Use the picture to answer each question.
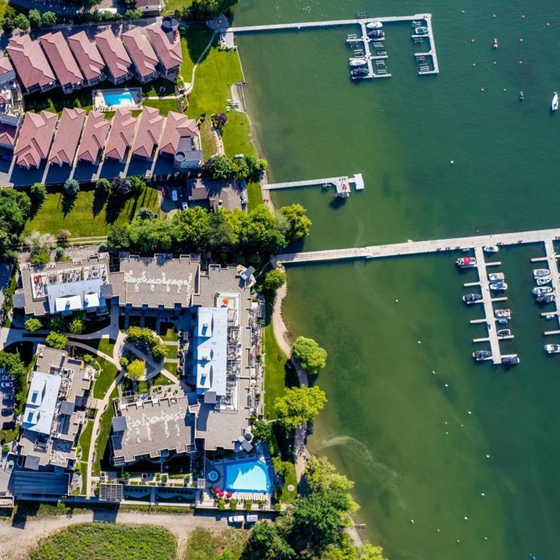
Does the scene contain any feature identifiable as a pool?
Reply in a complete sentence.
Yes, the image includes a pool.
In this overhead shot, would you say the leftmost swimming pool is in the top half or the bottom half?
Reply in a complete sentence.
The top half of the photo is where the leftmost swimming pool is.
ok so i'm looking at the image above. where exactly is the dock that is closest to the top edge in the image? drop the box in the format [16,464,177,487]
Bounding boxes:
[228,12,439,79]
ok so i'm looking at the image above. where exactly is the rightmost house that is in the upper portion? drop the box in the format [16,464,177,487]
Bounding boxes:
[209,183,242,216]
